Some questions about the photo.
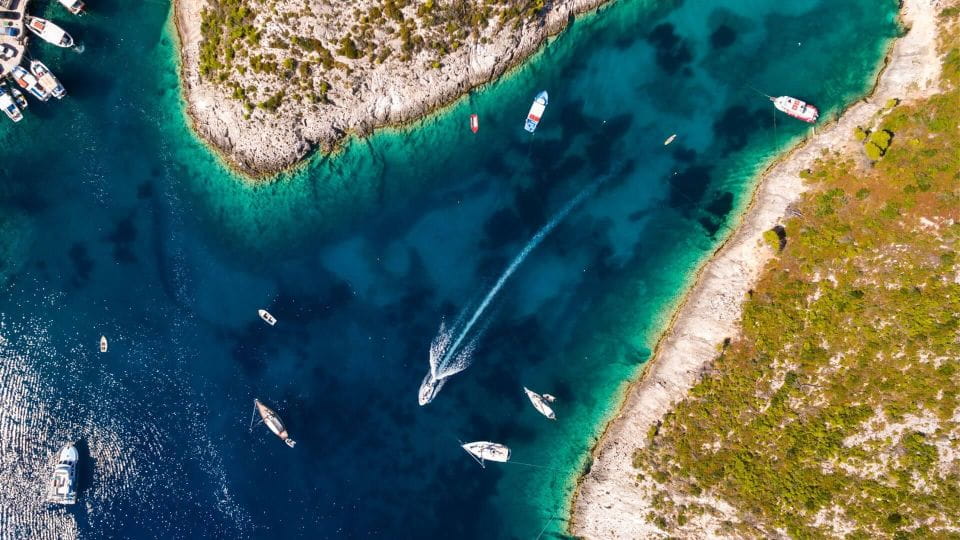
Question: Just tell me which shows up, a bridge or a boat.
boat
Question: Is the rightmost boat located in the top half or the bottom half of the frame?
top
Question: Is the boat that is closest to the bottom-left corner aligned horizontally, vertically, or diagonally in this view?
vertically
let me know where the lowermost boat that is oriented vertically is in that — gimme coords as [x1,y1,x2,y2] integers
[51,430,81,504]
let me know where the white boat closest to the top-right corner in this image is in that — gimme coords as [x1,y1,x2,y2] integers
[754,89,821,127]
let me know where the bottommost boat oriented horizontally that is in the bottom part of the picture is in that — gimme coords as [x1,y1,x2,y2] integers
[459,442,577,474]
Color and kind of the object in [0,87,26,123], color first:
white boat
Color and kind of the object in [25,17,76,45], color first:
white boat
